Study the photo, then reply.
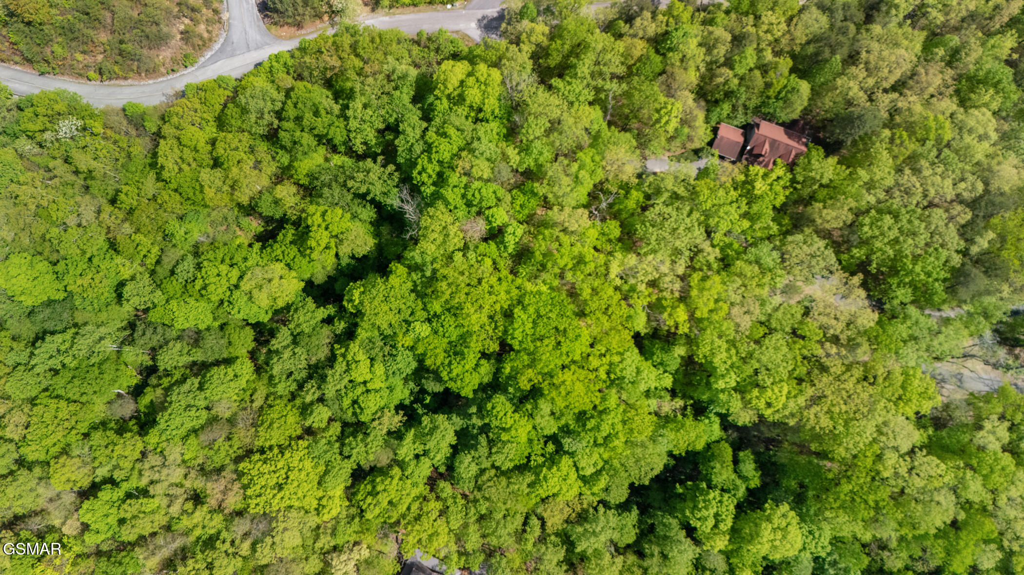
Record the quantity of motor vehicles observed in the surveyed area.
zero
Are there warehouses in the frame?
No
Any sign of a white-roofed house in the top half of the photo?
No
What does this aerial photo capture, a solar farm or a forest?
forest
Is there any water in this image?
No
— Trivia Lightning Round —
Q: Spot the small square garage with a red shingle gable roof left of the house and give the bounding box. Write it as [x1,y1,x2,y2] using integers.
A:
[712,123,745,158]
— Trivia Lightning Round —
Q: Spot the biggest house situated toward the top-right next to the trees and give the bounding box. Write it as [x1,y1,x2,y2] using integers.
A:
[739,112,812,177]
